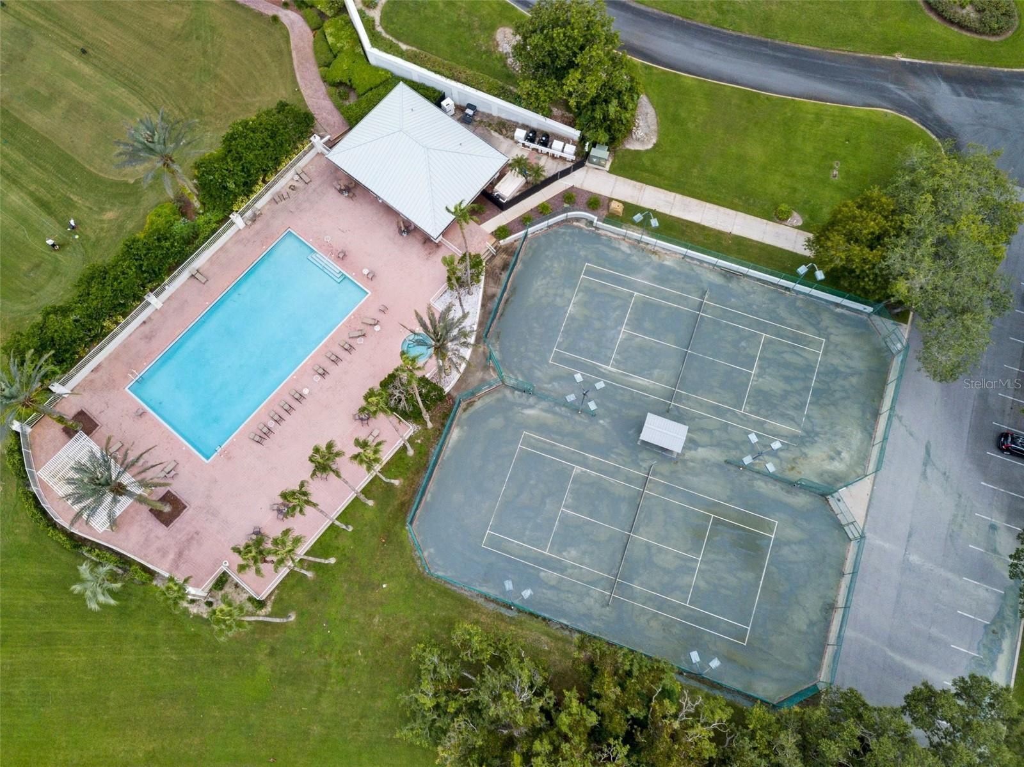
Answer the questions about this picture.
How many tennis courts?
2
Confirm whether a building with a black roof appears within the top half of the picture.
No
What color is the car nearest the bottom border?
black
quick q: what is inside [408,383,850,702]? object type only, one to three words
tennis court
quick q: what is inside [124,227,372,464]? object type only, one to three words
swimming pool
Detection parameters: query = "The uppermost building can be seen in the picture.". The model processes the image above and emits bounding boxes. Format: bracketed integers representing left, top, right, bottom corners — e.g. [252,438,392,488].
[325,82,511,248]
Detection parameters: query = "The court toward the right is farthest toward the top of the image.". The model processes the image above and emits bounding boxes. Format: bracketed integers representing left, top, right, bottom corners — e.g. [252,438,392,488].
[487,219,893,495]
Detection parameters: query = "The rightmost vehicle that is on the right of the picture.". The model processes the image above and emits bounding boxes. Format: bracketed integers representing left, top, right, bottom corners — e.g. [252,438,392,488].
[997,434,1024,463]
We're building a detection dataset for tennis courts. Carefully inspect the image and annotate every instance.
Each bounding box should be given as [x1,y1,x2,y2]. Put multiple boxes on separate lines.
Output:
[408,383,850,702]
[487,219,893,495]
